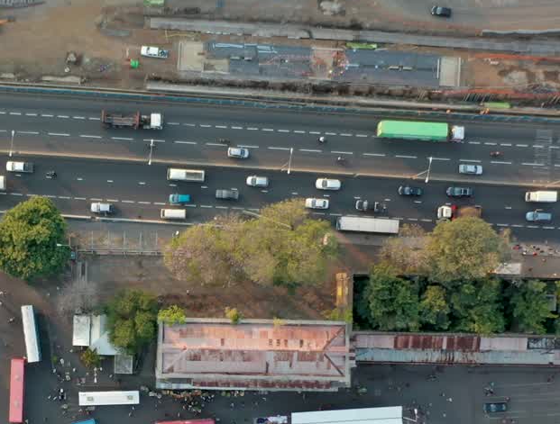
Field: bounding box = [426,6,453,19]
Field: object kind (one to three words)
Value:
vehicle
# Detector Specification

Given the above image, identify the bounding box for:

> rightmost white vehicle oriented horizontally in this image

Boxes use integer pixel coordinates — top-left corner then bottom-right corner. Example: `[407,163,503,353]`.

[521,189,559,206]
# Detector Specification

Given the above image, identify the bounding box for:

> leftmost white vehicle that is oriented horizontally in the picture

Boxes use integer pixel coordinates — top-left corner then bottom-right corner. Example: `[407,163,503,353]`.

[6,161,35,173]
